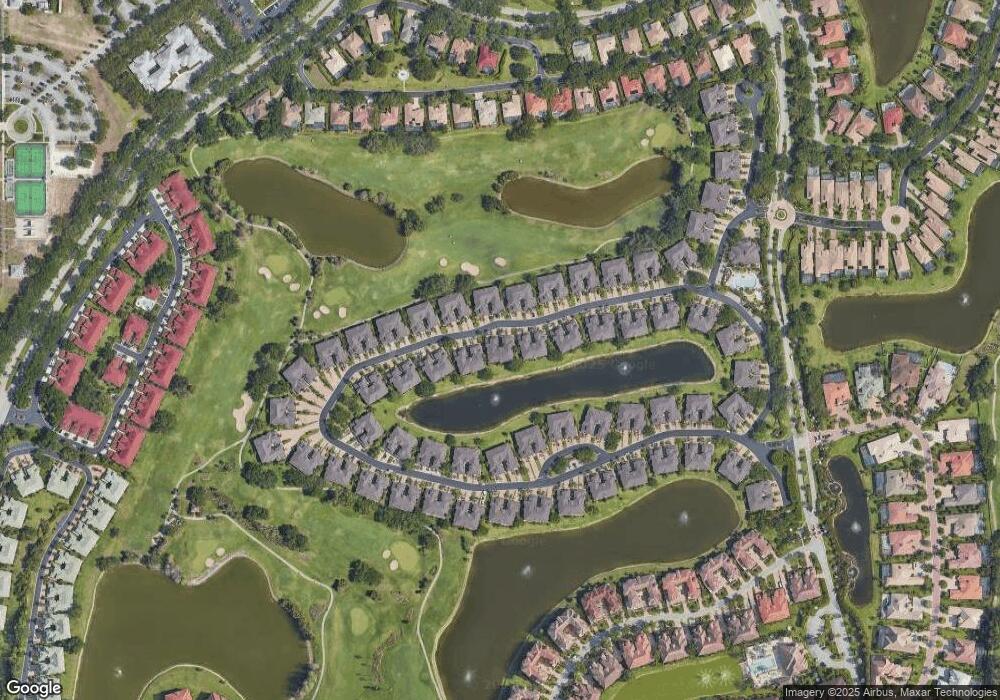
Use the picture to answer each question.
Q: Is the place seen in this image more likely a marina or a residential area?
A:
residential area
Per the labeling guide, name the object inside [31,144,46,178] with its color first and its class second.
green tennis court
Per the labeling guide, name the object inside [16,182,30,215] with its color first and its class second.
green tennis court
